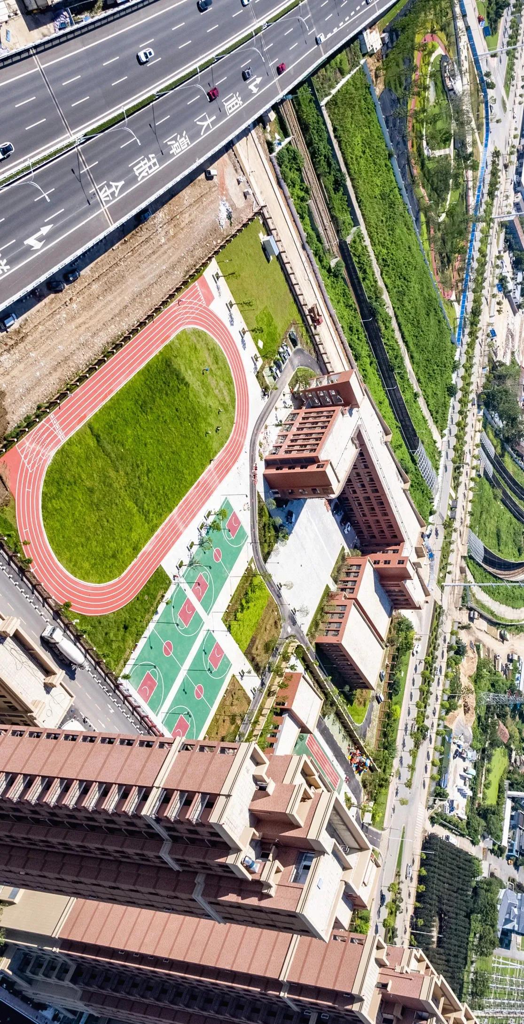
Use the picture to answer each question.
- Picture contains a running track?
Yes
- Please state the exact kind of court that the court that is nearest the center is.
basketball court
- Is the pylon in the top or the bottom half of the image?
bottom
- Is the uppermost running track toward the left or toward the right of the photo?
left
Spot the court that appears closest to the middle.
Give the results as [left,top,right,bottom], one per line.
[183,497,248,614]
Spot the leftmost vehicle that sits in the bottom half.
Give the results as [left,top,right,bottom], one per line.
[46,631,92,672]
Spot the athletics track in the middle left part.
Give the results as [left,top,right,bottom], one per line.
[1,277,249,617]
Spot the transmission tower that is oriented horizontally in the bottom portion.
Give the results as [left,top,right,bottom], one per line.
[477,688,524,710]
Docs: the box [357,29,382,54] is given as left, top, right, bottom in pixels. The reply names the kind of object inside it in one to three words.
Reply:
building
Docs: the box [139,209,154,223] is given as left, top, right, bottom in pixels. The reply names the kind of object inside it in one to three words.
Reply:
car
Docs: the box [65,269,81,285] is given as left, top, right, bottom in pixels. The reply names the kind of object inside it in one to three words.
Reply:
car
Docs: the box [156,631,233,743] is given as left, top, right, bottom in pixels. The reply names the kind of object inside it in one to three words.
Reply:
basketball court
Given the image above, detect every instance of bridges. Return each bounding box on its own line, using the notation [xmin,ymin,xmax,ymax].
[0,0,405,314]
